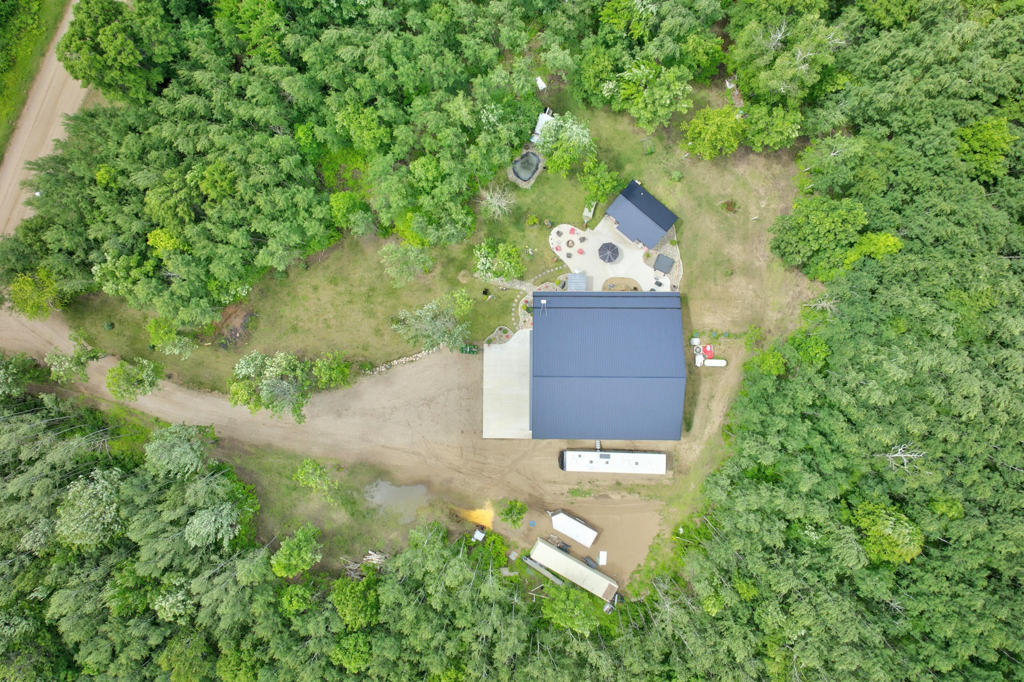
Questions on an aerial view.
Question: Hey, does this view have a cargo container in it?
Yes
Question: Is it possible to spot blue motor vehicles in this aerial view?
No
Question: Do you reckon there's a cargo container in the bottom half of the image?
Yes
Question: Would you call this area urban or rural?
rural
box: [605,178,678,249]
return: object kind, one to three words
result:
shed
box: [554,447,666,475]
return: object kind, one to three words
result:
vehicle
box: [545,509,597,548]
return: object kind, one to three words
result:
trailer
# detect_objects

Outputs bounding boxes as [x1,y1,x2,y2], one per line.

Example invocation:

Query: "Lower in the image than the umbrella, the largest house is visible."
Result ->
[528,291,686,440]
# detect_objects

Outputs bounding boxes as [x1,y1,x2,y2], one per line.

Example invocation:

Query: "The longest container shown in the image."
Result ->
[530,536,618,603]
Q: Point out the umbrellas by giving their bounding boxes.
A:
[598,243,619,264]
